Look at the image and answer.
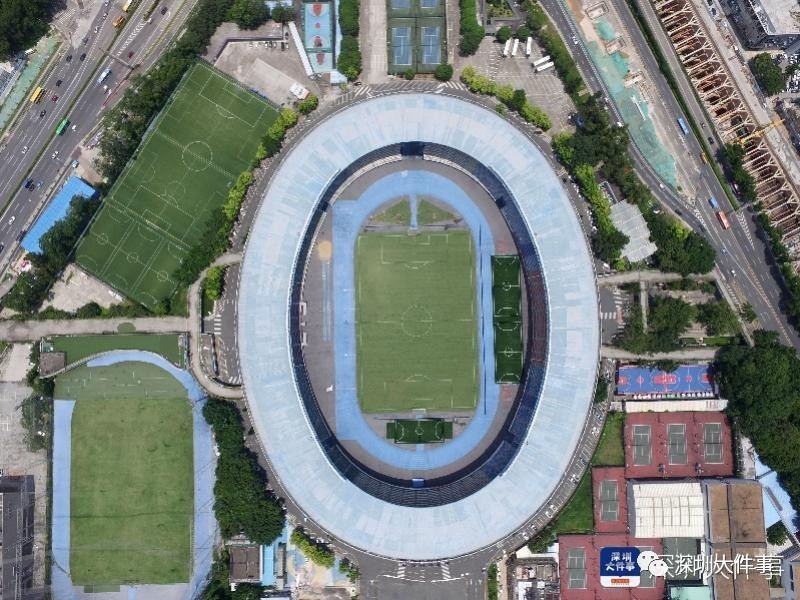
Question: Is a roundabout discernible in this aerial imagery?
No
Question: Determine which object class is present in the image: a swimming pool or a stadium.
stadium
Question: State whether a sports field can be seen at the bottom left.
Yes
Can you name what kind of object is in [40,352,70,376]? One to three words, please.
building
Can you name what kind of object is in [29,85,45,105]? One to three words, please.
vehicle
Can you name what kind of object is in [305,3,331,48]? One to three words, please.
basketball court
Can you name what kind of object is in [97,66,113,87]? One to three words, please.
vehicle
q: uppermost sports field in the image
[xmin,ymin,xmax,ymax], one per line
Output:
[77,58,282,308]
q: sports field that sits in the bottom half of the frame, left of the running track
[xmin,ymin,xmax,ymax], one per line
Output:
[52,350,218,600]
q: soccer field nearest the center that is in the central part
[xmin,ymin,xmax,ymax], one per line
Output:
[356,230,478,413]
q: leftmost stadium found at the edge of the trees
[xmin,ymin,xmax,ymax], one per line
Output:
[240,94,598,561]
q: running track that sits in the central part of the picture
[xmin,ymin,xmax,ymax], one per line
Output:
[333,170,497,470]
